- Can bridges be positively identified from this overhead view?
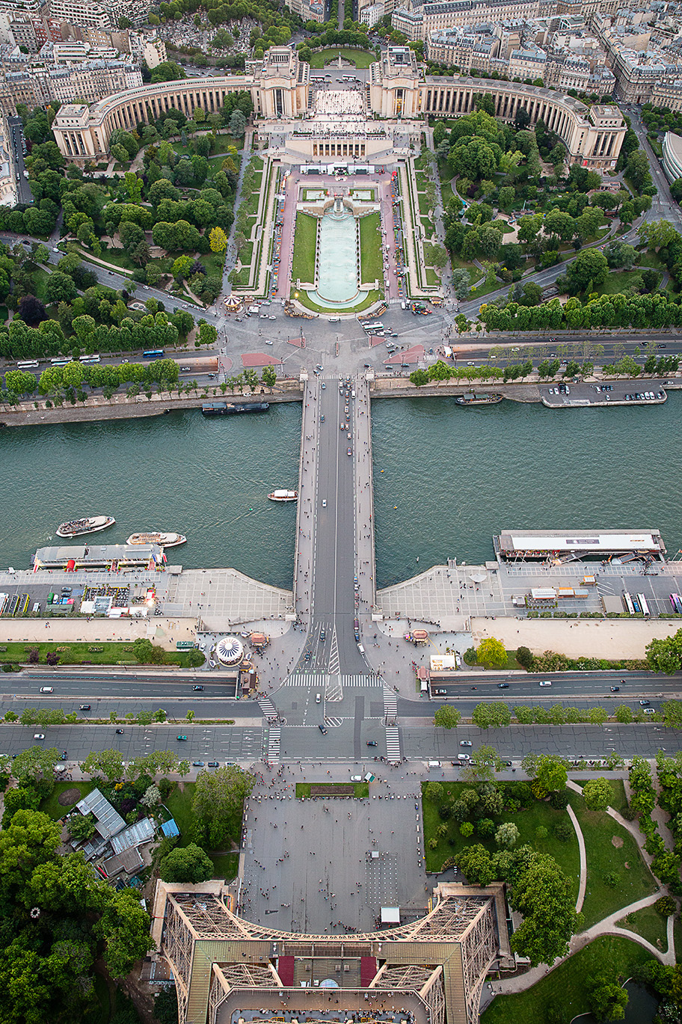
Yes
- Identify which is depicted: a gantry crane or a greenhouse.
greenhouse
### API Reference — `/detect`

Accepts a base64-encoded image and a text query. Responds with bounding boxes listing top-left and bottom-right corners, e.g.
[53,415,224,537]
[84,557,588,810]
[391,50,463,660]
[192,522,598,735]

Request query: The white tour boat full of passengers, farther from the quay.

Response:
[55,518,115,538]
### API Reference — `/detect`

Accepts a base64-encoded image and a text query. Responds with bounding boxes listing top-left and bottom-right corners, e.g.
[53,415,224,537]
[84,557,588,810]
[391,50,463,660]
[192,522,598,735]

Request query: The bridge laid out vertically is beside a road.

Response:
[294,374,375,622]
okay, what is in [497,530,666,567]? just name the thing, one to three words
pier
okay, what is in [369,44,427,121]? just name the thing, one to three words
building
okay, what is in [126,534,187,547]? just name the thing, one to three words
boat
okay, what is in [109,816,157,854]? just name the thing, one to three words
greenhouse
